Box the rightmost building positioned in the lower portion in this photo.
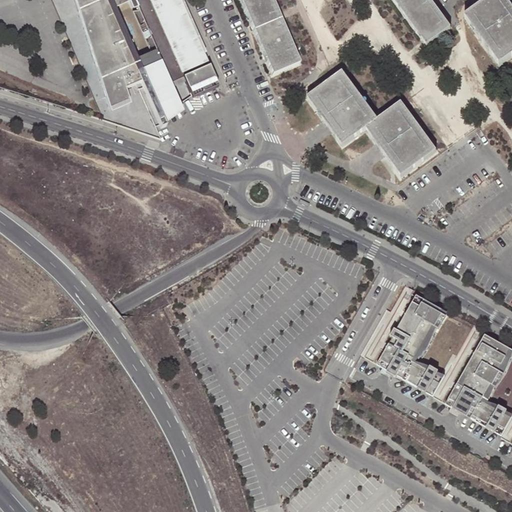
[446,333,512,447]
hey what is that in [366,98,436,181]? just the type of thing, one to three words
building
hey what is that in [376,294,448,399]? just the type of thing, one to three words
building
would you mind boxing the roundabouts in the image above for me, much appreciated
[228,164,290,222]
